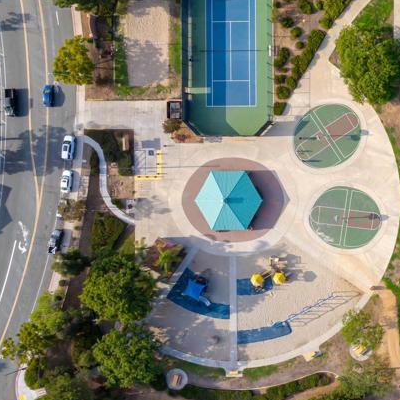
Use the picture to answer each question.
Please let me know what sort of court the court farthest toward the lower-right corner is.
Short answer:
basketball court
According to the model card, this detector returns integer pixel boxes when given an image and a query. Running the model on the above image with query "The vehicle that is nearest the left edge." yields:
[3,89,18,115]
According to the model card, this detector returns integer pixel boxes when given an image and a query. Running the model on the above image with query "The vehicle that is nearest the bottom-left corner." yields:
[47,229,65,256]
